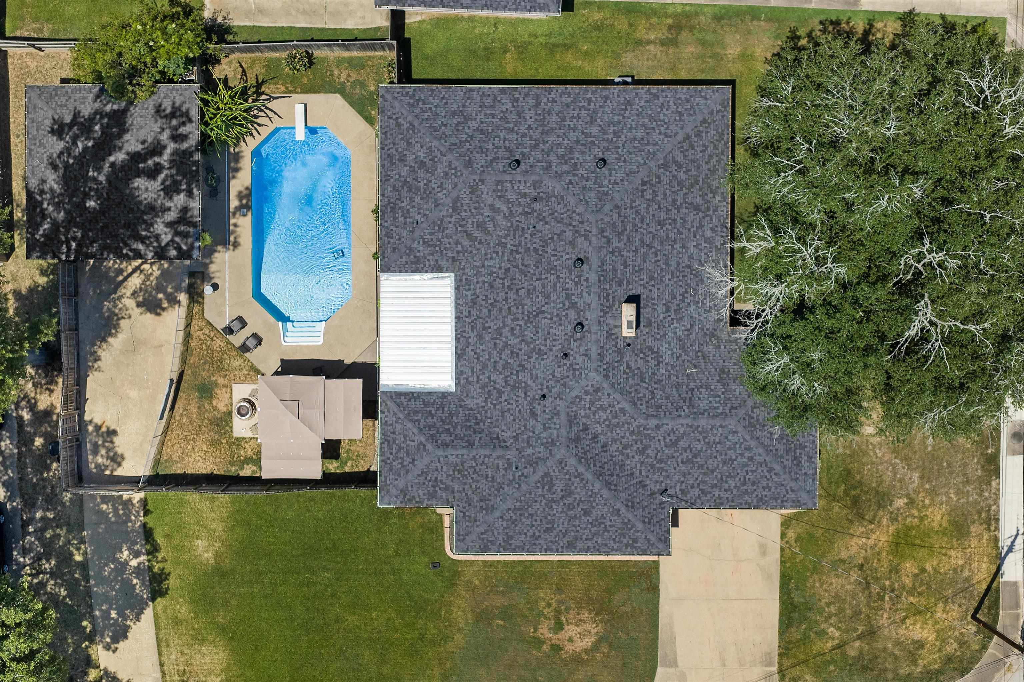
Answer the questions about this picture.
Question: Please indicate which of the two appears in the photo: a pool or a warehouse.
pool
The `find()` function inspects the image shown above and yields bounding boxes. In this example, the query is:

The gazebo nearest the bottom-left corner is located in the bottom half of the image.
[257,370,369,479]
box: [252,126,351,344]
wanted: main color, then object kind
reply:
blue swimming pool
